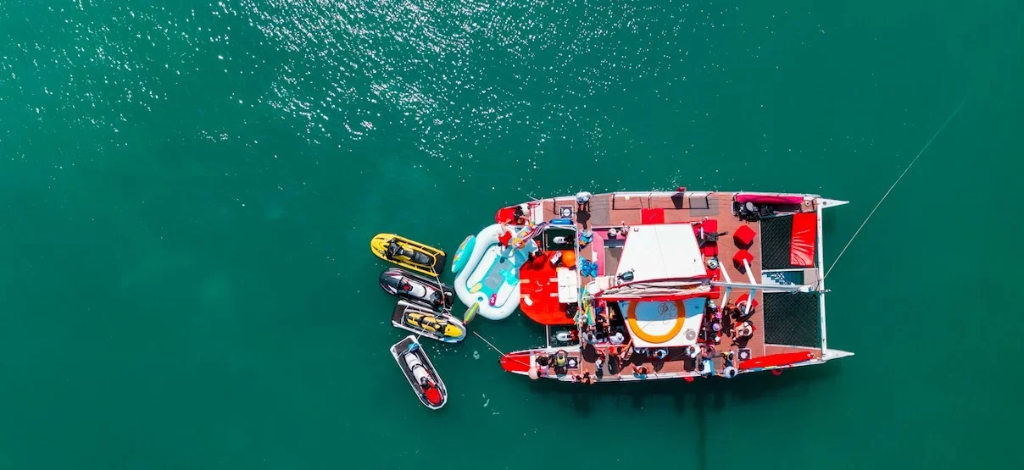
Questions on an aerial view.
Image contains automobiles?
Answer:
No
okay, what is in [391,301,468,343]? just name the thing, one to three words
boat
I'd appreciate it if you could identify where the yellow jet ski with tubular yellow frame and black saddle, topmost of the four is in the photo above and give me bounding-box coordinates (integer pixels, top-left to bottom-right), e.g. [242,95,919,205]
[369,234,447,277]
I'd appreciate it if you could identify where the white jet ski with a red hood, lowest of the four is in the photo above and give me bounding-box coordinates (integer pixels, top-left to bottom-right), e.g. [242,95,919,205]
[390,335,446,411]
